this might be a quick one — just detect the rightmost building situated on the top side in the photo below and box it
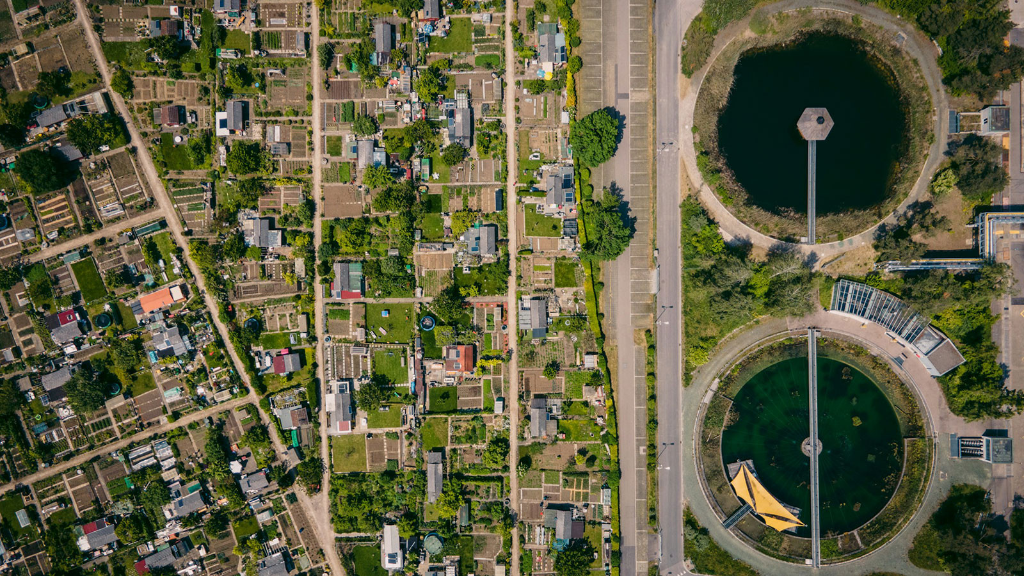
[959,105,1010,135]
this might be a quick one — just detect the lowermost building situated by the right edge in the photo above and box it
[960,434,1013,463]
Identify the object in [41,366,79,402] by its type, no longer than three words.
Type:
shed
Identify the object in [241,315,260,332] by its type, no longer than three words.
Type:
trampoline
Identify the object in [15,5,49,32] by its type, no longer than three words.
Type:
shed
